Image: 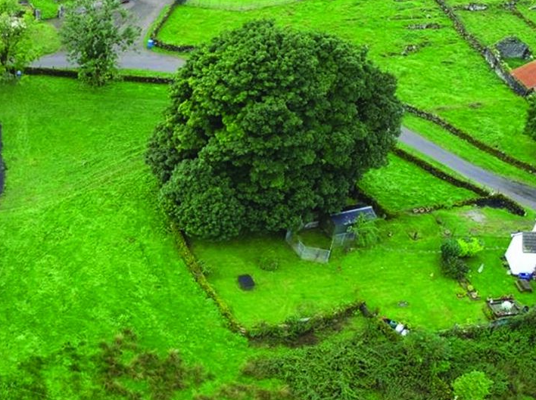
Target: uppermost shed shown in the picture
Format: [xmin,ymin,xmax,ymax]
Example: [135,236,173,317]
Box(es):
[498,38,534,67]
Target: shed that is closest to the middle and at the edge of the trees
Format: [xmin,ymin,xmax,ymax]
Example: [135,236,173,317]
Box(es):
[322,200,378,234]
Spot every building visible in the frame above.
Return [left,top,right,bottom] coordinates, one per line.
[498,38,534,67]
[507,61,536,99]
[499,233,536,275]
[322,200,378,234]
